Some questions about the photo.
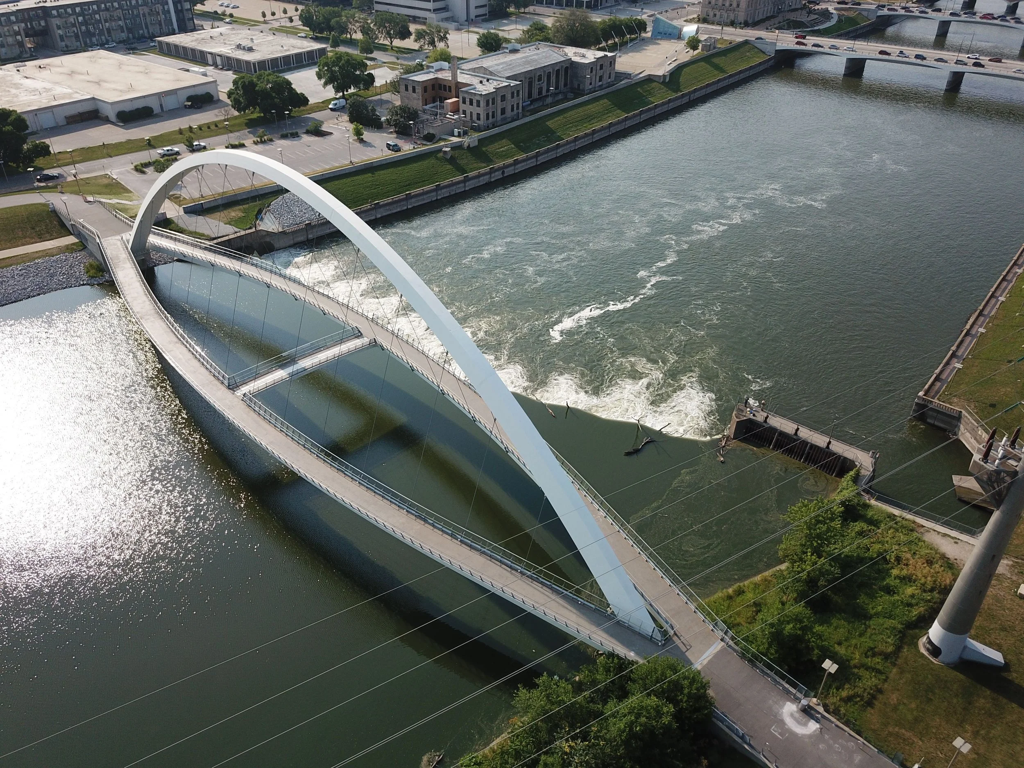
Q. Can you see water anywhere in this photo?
Yes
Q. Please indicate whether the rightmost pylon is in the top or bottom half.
bottom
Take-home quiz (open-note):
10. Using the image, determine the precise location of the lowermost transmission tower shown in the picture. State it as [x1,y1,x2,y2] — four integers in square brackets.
[910,436,1024,684]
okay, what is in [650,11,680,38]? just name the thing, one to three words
building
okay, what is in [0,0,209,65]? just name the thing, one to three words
building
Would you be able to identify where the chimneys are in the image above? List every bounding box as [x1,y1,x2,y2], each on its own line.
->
[445,57,458,97]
